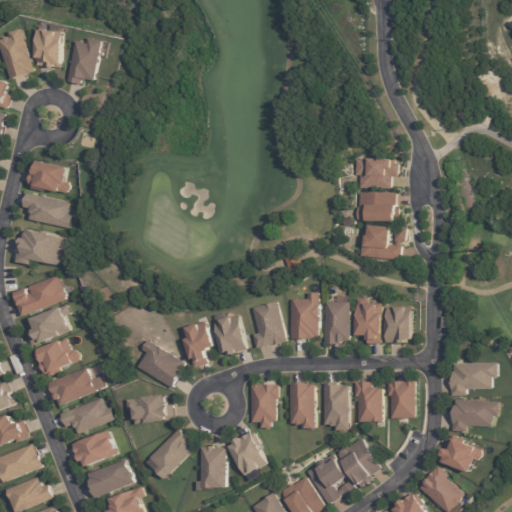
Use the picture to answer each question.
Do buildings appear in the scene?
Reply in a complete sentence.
Yes, there's a building here.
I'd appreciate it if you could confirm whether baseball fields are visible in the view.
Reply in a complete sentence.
No, there is no baseball field in the image.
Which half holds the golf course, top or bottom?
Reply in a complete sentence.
The top half of the photo is where the golf course is.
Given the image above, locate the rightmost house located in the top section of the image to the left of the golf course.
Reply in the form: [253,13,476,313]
[68,40,102,83]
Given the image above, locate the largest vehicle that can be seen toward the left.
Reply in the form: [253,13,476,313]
[10,356,24,375]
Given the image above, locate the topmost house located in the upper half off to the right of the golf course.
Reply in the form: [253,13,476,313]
[356,158,402,189]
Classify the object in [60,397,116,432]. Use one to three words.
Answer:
house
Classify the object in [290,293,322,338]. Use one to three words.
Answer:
house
